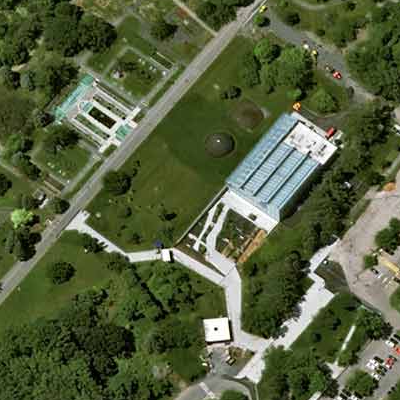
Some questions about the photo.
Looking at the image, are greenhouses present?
Yes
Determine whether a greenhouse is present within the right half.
Yes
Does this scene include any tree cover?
Yes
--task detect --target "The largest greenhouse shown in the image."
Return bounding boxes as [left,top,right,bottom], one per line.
[221,109,337,232]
